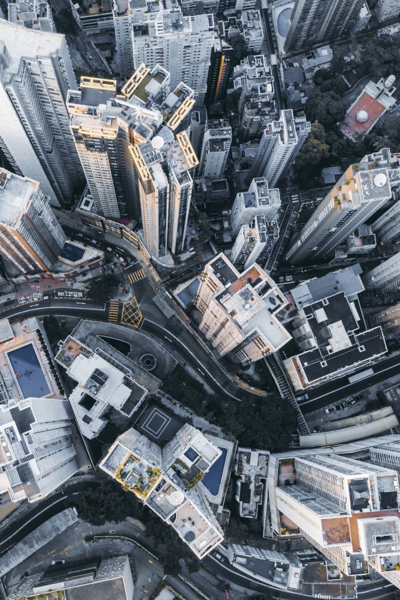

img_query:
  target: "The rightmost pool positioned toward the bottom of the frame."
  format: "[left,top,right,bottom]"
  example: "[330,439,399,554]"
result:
[196,446,229,498]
